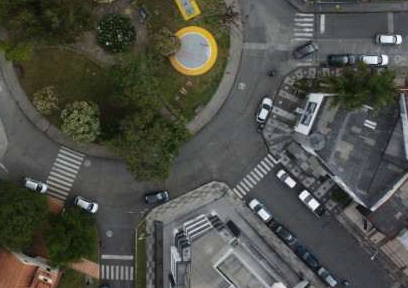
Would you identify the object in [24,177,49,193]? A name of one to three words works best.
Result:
car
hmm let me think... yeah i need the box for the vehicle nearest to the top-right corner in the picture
[376,33,401,45]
